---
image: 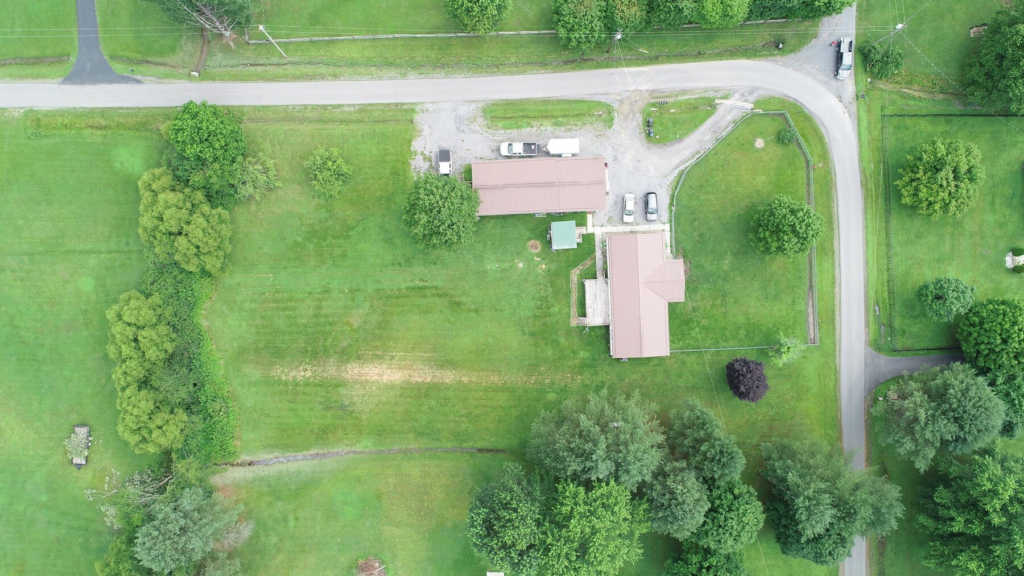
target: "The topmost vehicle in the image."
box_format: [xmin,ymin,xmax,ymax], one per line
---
[834,39,852,80]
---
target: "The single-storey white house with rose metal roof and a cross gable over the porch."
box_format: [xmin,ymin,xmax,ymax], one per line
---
[606,232,686,359]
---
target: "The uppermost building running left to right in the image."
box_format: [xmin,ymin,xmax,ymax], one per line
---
[472,156,606,217]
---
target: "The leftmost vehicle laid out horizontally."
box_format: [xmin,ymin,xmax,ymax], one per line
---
[499,142,539,157]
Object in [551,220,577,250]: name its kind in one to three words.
shed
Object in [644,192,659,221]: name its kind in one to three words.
car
